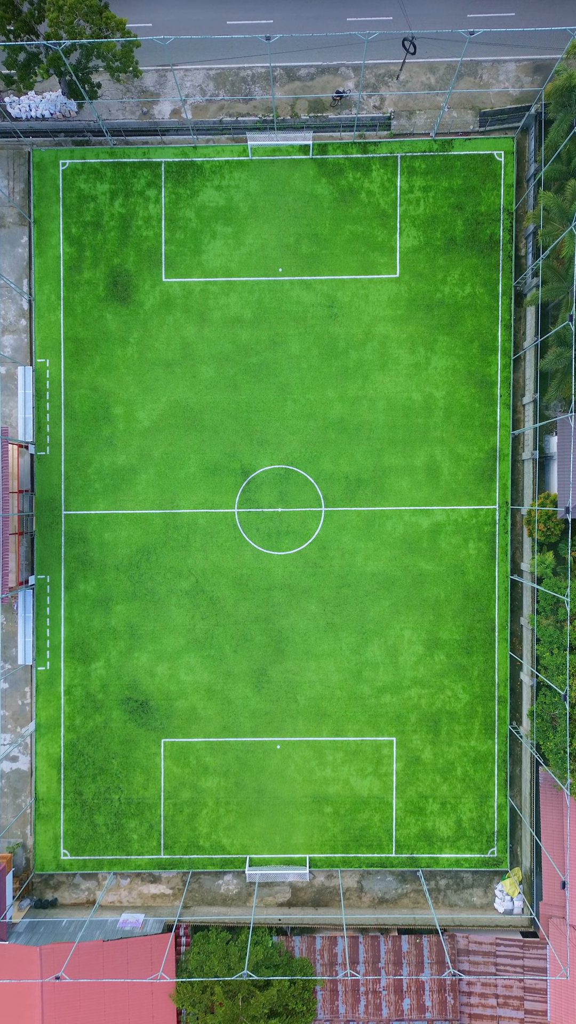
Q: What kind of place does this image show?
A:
sports ground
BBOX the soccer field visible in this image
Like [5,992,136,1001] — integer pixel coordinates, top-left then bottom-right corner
[32,136,515,873]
